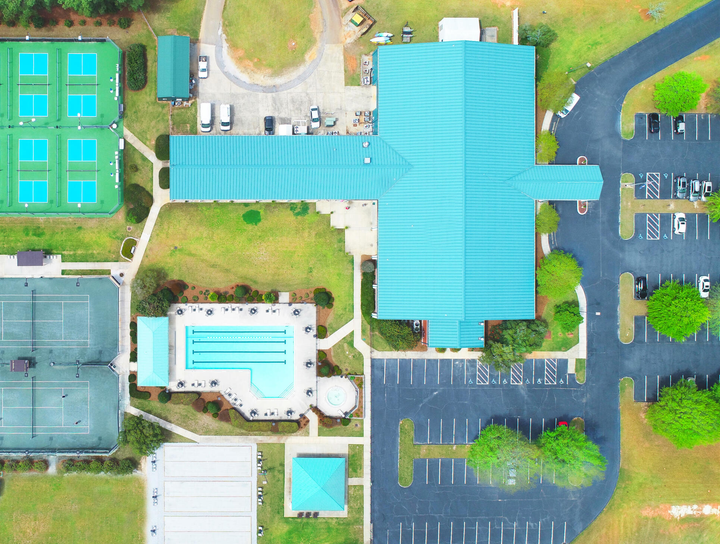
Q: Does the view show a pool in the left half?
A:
Yes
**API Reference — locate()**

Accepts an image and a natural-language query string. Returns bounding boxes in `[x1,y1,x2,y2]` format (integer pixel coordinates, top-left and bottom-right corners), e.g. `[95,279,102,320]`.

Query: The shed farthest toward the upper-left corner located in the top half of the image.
[158,34,190,100]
